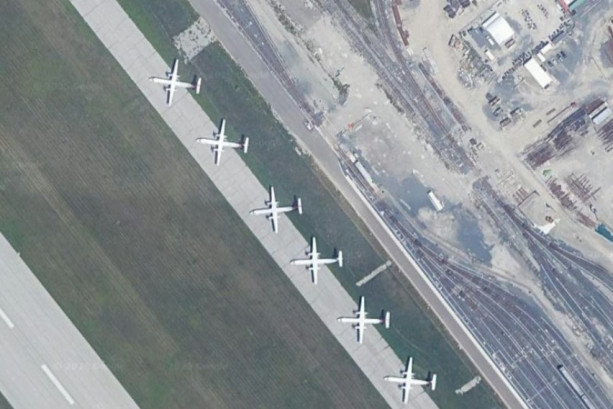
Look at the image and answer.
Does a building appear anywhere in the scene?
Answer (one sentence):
Yes, a building appears in the view.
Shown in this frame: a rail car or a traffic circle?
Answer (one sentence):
I can see a rail car in this picture.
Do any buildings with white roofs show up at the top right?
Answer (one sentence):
Yes, a building with a white roof can be seen at the top right.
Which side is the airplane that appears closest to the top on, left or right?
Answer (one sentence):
It is on the left.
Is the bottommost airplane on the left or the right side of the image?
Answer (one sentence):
It is on the right.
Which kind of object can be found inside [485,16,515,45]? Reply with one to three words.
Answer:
building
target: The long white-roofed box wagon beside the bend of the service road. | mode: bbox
[356,163,374,182]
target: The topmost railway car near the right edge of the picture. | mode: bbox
[560,368,585,396]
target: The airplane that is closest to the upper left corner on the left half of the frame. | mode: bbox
[150,59,201,105]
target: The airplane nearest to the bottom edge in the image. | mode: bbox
[384,357,436,404]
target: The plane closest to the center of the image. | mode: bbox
[250,186,302,234]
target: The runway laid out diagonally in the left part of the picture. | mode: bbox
[0,233,139,409]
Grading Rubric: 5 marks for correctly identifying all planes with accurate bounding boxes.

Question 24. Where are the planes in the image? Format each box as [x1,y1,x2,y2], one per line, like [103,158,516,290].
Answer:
[250,186,302,234]
[150,59,201,105]
[290,238,342,284]
[338,296,389,344]
[196,119,247,166]
[384,357,436,404]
